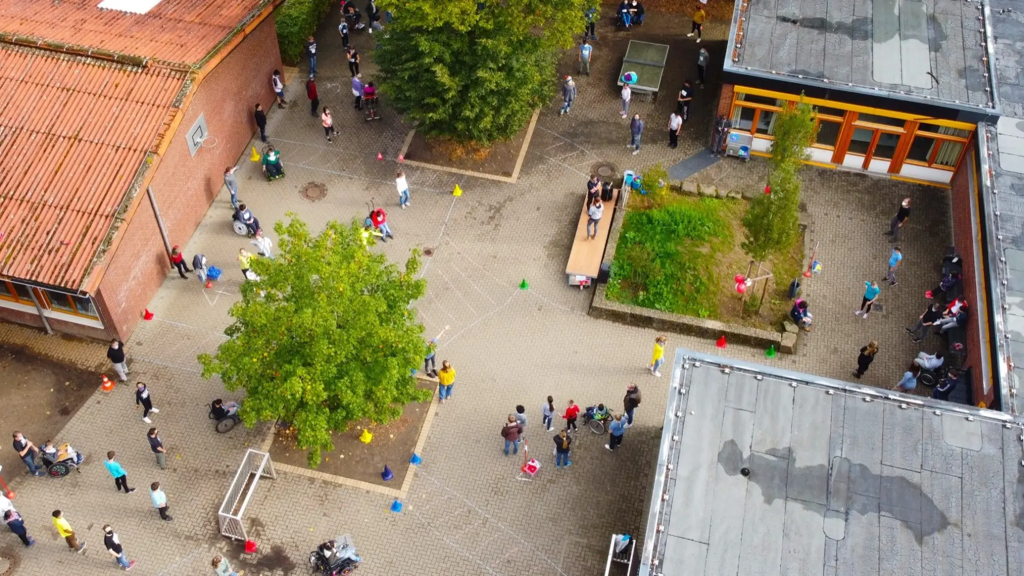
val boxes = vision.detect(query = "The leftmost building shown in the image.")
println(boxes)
[0,0,283,345]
